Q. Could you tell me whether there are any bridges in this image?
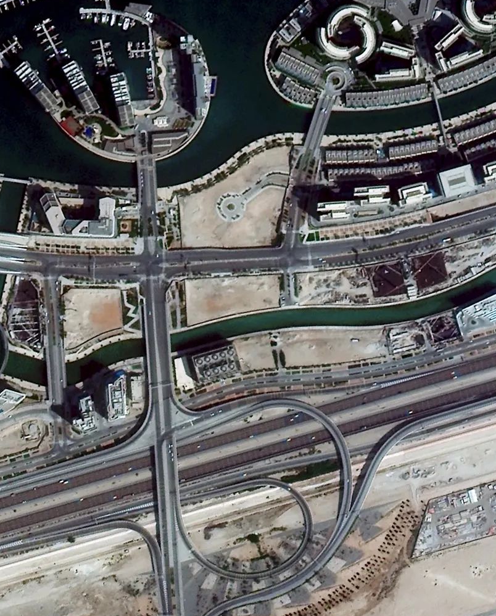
Yes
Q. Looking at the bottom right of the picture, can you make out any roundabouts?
No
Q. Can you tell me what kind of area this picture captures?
residential area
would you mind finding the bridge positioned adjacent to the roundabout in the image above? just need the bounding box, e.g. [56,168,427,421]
[296,91,336,172]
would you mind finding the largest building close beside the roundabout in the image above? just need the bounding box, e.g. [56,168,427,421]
[313,5,377,65]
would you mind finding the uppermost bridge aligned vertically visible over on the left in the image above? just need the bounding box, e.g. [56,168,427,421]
[135,150,157,199]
